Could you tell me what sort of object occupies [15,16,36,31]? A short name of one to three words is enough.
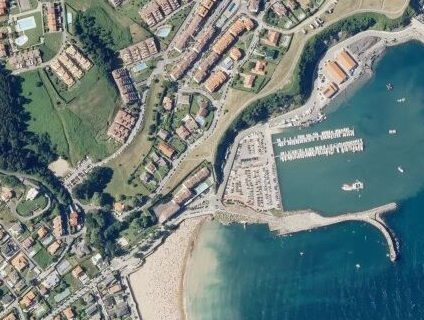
swimming pool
